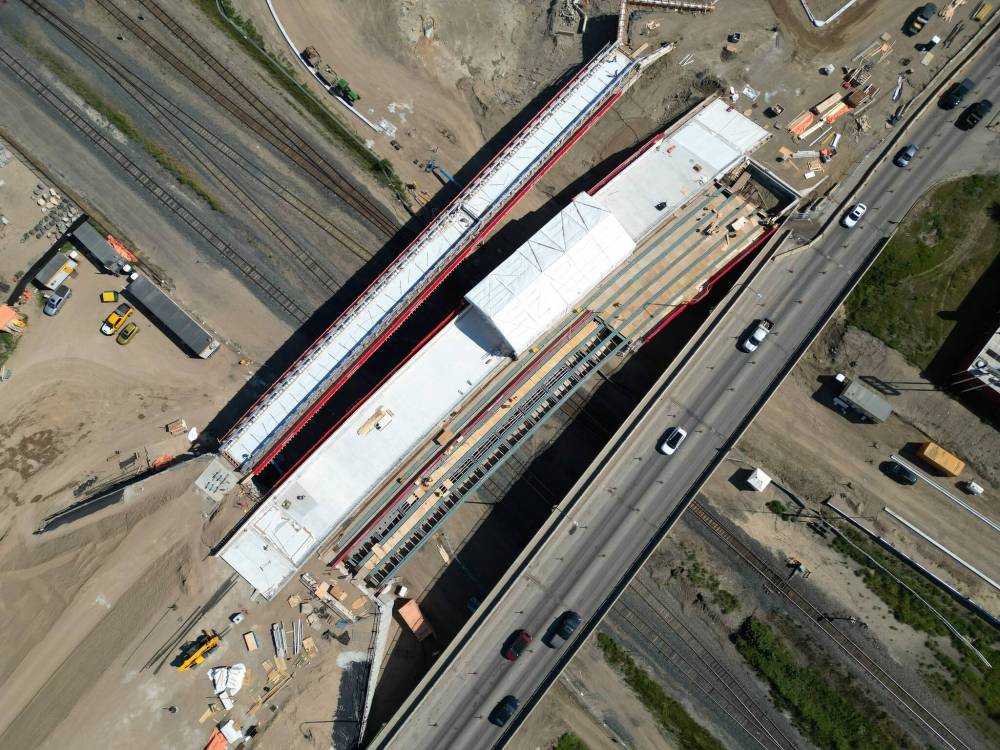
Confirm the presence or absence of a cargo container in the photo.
Yes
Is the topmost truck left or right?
right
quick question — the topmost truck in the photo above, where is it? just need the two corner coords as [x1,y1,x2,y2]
[908,0,940,35]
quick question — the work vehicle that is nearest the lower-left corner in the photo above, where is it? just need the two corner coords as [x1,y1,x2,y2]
[174,623,225,674]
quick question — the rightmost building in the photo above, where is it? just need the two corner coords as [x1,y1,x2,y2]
[950,302,1000,408]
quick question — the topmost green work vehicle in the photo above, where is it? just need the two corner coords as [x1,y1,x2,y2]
[334,73,360,102]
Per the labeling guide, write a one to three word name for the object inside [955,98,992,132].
truck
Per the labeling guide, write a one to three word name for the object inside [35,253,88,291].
building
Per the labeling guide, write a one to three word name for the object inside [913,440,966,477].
shipping container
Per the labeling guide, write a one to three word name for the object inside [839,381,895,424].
trailer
